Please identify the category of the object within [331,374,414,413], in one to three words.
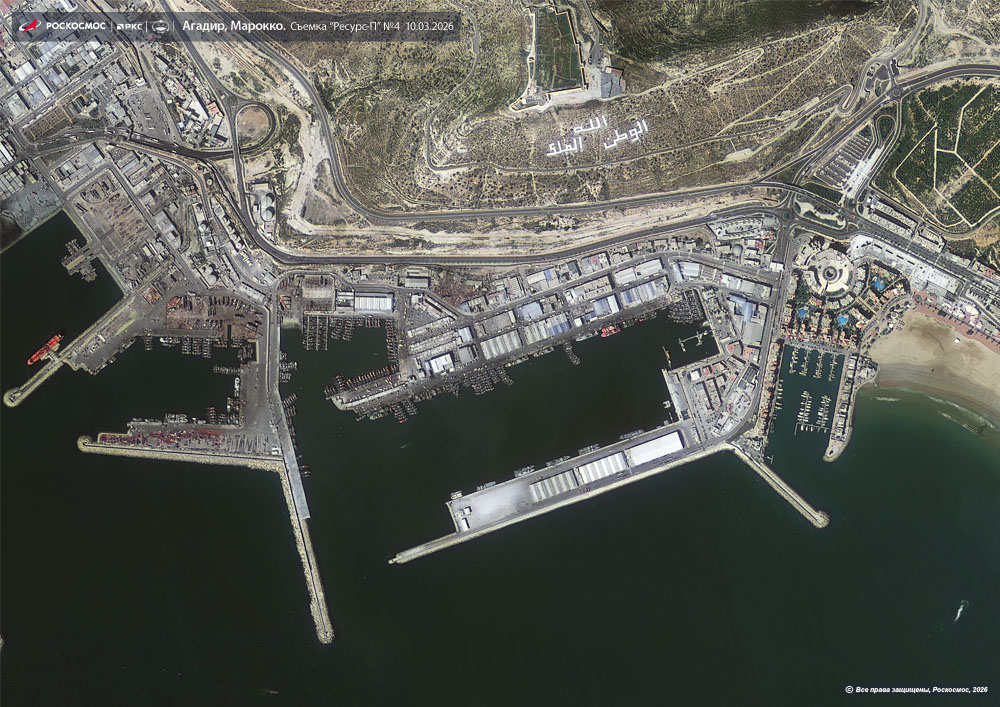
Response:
pier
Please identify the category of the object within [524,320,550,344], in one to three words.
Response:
building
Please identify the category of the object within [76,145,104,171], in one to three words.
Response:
building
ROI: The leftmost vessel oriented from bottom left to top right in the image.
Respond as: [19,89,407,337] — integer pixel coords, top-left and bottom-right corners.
[26,333,64,364]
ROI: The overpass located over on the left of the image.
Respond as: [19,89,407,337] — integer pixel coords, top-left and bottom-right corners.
[111,132,251,158]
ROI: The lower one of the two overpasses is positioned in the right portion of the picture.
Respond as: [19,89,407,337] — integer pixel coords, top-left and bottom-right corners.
[736,181,867,225]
